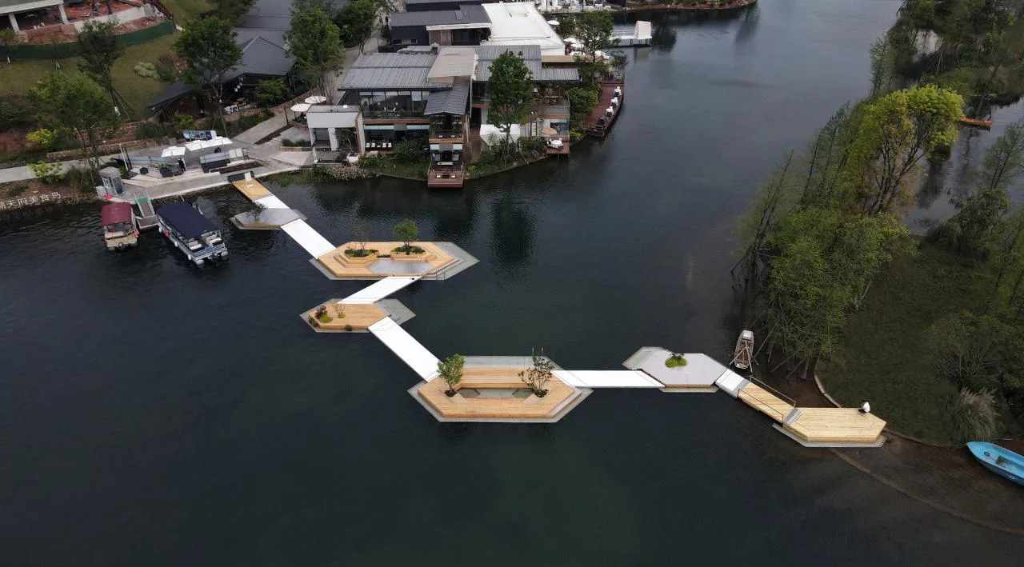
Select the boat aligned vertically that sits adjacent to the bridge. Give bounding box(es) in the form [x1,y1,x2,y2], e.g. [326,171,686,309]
[732,325,753,373]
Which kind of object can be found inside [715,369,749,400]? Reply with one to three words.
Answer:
bridge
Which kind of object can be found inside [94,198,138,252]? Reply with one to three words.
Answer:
boat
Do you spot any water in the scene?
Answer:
Yes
